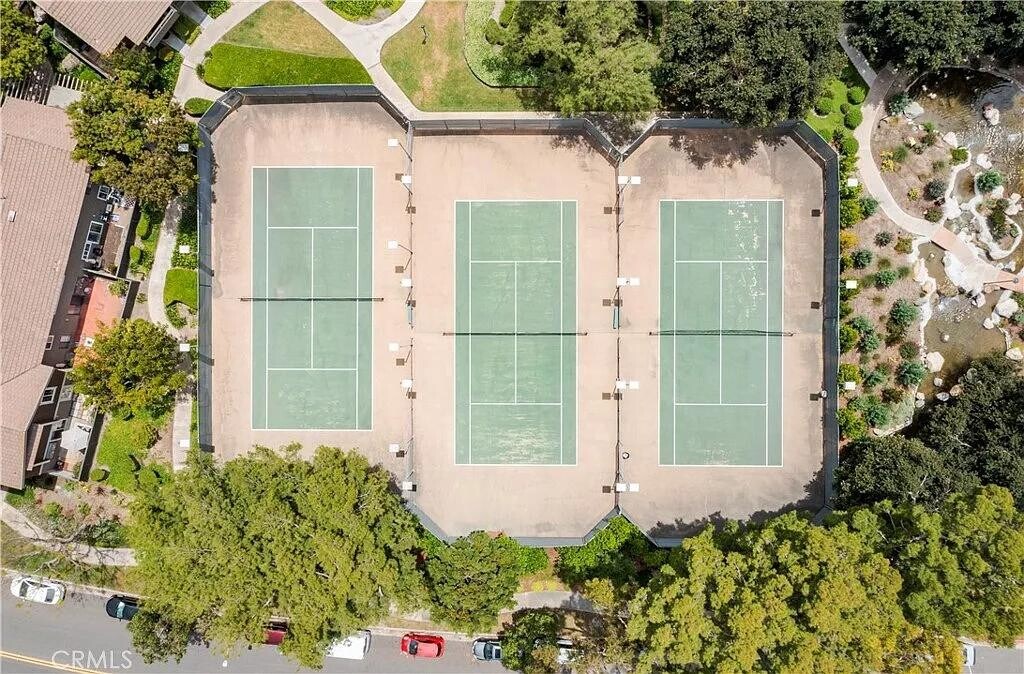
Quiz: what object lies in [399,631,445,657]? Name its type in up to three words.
car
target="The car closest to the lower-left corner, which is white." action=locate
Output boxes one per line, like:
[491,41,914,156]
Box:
[8,574,66,604]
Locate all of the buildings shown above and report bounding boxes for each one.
[30,0,190,59]
[0,96,121,491]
